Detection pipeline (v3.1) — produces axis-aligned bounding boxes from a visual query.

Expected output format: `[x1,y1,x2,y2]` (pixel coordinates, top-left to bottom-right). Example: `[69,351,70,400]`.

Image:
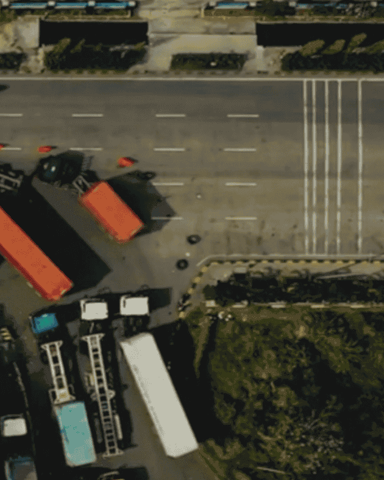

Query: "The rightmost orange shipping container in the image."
[76,181,142,245]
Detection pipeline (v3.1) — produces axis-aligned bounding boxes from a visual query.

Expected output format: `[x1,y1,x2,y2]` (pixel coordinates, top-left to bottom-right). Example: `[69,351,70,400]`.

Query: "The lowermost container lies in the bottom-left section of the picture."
[51,400,93,466]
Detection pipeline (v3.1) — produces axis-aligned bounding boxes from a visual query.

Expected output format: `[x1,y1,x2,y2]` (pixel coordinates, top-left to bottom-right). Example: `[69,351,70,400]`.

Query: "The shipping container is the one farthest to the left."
[0,209,72,301]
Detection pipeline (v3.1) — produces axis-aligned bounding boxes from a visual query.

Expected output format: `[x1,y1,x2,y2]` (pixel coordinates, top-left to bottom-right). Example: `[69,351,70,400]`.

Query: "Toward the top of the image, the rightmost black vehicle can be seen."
[34,150,99,197]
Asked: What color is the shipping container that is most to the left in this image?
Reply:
orange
